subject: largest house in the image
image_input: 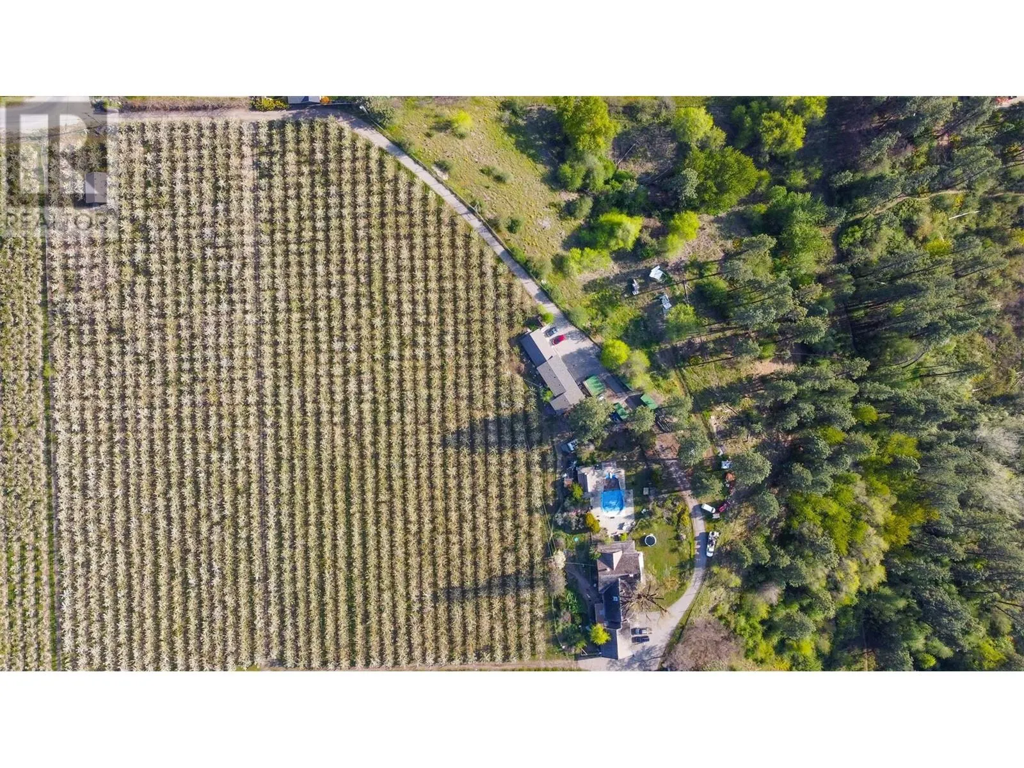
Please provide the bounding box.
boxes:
[594,540,645,659]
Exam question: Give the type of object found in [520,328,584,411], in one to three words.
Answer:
building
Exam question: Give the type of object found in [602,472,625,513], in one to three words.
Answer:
swimming pool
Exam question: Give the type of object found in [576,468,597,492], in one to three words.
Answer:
building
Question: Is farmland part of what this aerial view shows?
Yes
